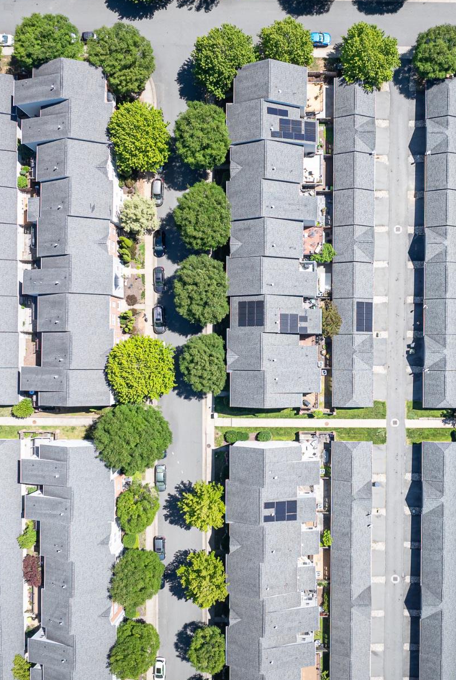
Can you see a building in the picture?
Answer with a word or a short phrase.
Yes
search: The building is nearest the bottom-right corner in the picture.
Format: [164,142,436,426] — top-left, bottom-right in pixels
[419,643,456,680]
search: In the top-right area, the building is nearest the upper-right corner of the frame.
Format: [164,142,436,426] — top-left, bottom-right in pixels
[424,78,456,119]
